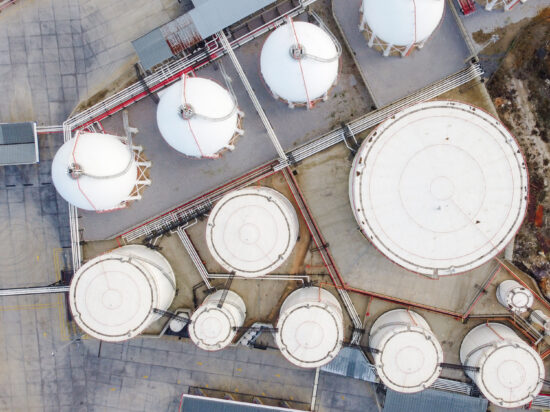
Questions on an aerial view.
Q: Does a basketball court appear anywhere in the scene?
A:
No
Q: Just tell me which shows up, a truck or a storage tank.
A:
storage tank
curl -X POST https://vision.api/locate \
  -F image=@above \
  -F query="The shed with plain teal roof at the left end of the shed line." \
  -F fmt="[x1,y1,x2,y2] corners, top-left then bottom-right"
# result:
[132,28,176,73]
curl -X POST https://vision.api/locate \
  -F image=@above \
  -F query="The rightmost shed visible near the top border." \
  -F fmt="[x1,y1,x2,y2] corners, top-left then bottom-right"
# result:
[186,0,280,45]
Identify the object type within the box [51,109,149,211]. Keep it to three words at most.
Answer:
storage tank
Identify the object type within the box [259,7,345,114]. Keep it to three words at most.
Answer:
storage tank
